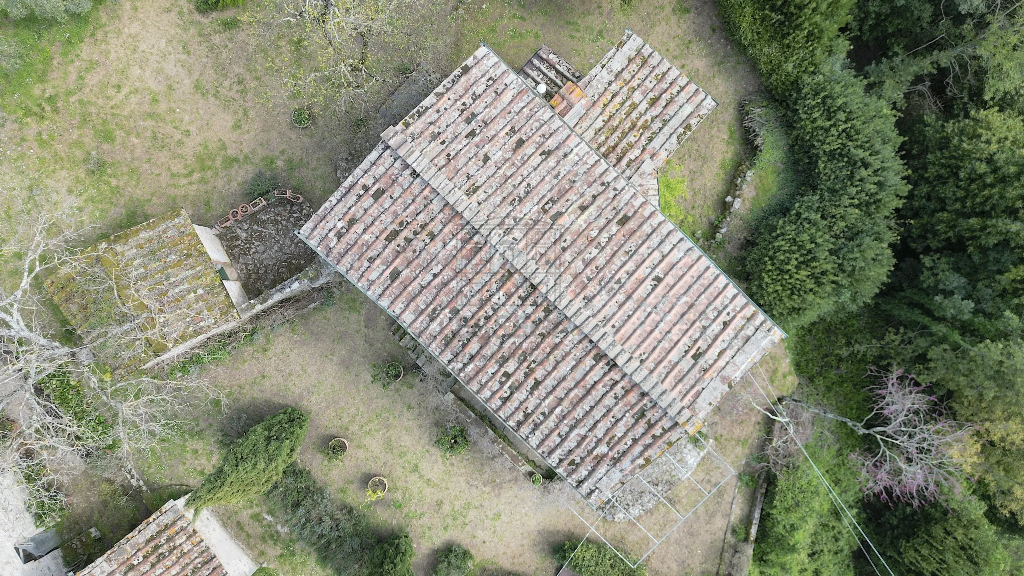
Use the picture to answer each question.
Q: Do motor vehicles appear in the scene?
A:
No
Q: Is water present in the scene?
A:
No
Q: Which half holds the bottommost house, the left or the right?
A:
left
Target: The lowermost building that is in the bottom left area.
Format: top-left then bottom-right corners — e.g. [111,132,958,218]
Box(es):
[63,492,272,576]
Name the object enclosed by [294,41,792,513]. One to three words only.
house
